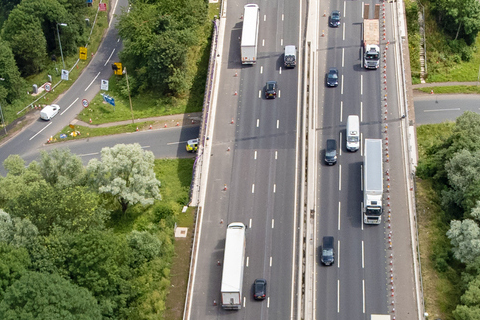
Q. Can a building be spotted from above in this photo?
No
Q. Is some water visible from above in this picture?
No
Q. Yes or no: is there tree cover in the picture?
Yes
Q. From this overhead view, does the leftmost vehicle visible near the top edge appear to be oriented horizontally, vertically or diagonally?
vertically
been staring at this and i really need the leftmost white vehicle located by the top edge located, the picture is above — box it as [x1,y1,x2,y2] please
[241,3,261,63]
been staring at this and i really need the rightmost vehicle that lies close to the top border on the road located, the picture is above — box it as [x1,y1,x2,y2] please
[364,1,382,68]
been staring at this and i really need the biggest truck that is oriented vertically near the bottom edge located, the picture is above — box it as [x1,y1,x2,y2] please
[221,221,248,310]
